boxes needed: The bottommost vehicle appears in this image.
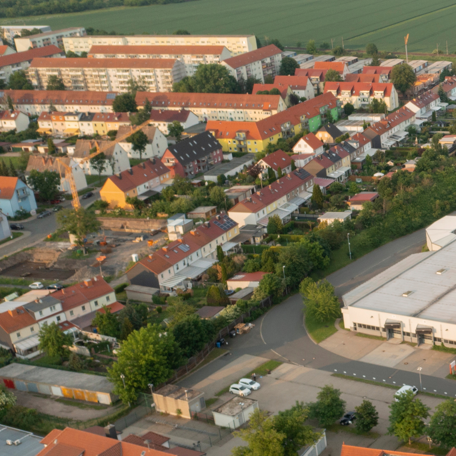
[340,409,354,421]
